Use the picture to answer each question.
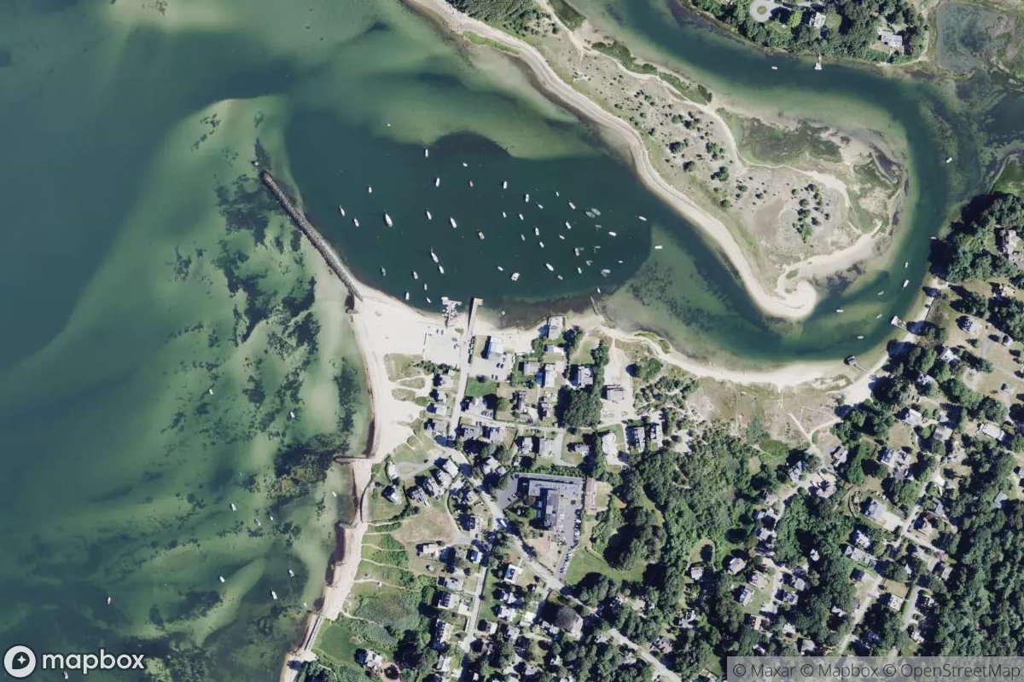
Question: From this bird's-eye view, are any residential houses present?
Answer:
Yes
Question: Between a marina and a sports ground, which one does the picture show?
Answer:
marina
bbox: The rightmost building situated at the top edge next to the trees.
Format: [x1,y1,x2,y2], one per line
[880,30,904,48]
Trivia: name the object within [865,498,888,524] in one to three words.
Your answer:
house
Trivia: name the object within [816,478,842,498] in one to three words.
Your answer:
house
